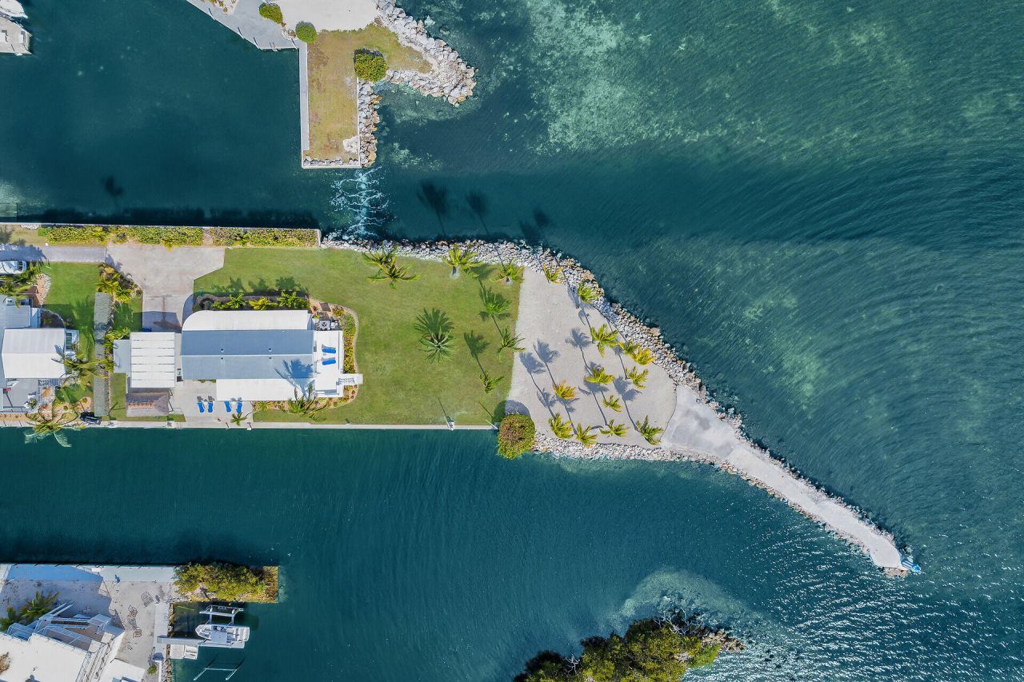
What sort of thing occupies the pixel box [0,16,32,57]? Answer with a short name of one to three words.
boat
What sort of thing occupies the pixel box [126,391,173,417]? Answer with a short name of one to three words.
building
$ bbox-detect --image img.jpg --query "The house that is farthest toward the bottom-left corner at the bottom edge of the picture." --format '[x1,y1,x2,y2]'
[0,603,154,682]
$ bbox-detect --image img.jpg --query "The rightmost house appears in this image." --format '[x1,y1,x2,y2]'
[180,310,363,401]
